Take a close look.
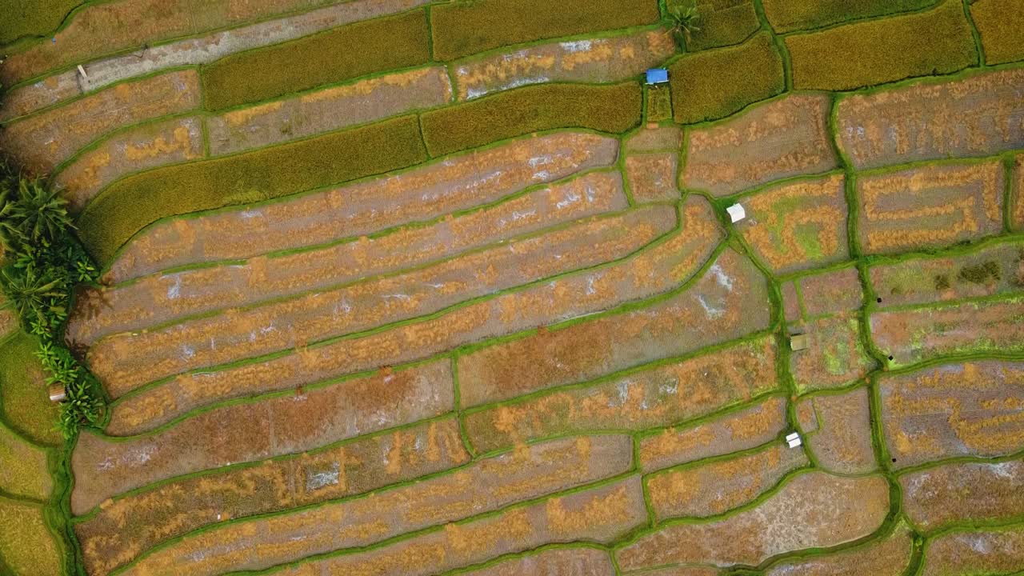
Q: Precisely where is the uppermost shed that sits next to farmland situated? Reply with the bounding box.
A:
[645,69,668,85]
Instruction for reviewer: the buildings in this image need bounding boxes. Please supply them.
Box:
[50,383,70,400]
[789,334,808,349]
[725,203,744,223]
[784,431,802,449]
[645,69,668,85]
